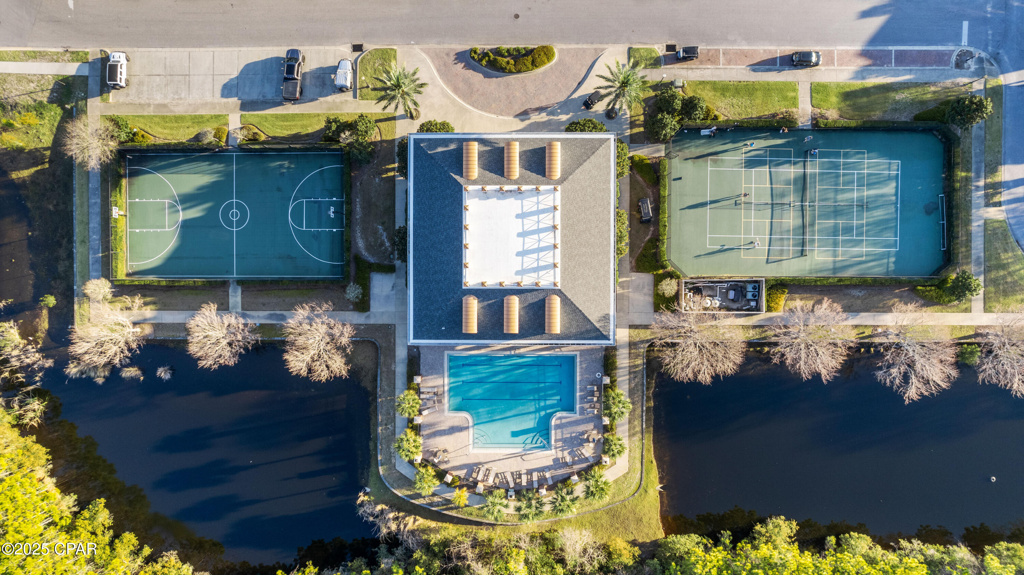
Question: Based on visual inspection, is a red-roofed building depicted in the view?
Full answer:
No, this view has no red-roofed building in it.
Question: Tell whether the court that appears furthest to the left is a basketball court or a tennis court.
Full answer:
The court that appears furthest to the left can be classified as a basketball court.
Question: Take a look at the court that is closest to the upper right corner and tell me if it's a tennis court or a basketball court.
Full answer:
The court that is closest to the upper right corner in the image is a tennis court.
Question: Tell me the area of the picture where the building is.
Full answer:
The building sits in the center section of the image.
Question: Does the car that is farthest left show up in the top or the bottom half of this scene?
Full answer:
You can find the car that is farthest left in the top half.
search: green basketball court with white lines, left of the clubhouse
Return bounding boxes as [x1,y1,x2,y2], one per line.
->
[125,148,346,280]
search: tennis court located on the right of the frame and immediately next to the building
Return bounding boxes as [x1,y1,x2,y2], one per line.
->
[665,128,944,276]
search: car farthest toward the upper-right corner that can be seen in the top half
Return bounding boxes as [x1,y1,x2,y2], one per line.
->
[789,51,821,69]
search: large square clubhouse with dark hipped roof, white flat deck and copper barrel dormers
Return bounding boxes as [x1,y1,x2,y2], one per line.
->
[408,133,616,345]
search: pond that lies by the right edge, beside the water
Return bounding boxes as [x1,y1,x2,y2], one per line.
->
[653,352,1024,547]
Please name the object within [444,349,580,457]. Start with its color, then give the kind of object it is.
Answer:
blue swimming pool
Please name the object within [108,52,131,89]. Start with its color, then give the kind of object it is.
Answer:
white car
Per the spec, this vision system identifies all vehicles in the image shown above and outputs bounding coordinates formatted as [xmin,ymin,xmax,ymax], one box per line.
[336,61,356,96]
[283,51,305,103]
[677,45,700,61]
[637,197,652,220]
[108,52,131,89]
[789,51,821,69]
[579,91,601,111]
